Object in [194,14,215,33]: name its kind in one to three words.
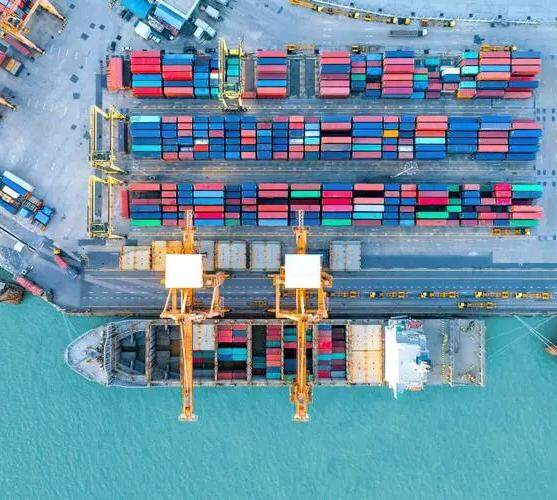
vehicle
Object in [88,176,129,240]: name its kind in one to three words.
container crane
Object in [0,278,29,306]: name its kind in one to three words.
ship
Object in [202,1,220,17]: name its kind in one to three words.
vehicle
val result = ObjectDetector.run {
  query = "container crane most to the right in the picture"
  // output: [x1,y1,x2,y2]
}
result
[268,208,332,422]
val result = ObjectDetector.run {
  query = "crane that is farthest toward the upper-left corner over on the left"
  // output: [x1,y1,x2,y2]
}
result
[2,0,70,54]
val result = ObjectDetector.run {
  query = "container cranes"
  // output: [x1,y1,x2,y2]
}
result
[2,0,70,54]
[219,36,249,111]
[88,176,129,240]
[155,208,230,422]
[89,104,130,174]
[268,208,332,422]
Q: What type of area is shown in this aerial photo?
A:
port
